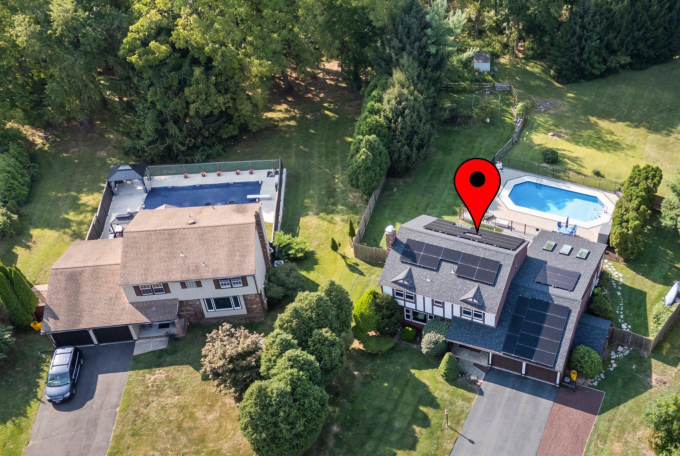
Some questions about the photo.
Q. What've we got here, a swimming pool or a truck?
swimming pool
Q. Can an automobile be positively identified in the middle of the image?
No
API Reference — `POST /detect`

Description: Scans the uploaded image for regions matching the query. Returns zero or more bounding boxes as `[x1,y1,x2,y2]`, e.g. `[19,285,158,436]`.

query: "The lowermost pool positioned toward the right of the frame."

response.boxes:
[499,174,613,229]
